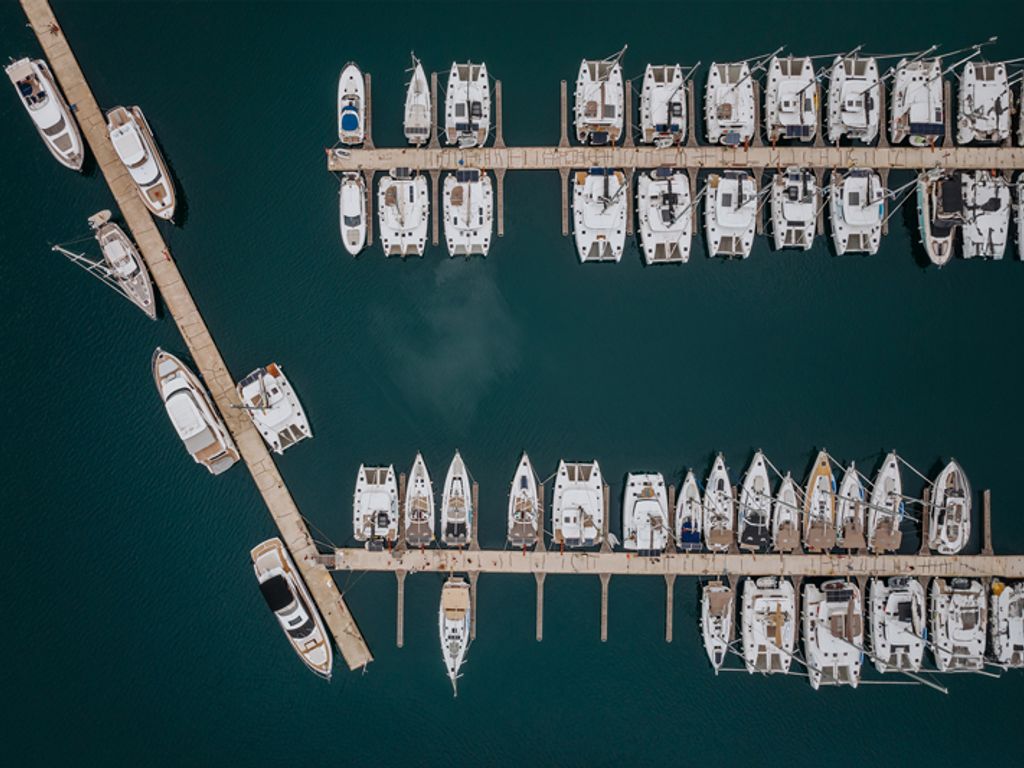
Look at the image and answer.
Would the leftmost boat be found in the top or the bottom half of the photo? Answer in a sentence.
Seen from above, the leftmost boat lies in the top half of the view.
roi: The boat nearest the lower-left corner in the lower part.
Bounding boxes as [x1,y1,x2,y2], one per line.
[253,537,334,681]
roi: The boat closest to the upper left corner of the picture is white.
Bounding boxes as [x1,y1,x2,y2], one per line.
[8,57,96,174]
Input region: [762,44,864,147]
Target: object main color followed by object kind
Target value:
white boat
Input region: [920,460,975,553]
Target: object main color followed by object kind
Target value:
gray boat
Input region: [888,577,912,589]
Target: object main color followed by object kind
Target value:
gray boat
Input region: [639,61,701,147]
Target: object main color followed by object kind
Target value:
white boat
